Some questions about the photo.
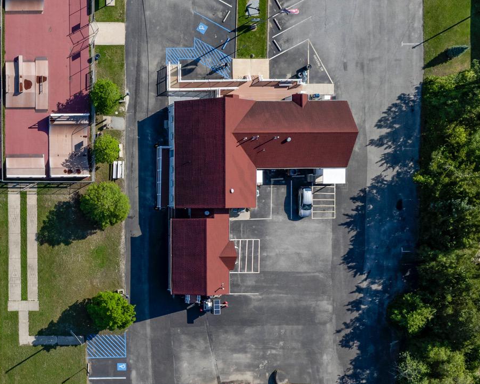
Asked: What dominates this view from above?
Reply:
paved ground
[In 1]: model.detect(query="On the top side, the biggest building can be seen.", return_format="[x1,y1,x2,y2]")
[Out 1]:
[170,94,358,208]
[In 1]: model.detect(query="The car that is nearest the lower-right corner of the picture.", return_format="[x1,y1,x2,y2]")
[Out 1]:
[296,185,315,218]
